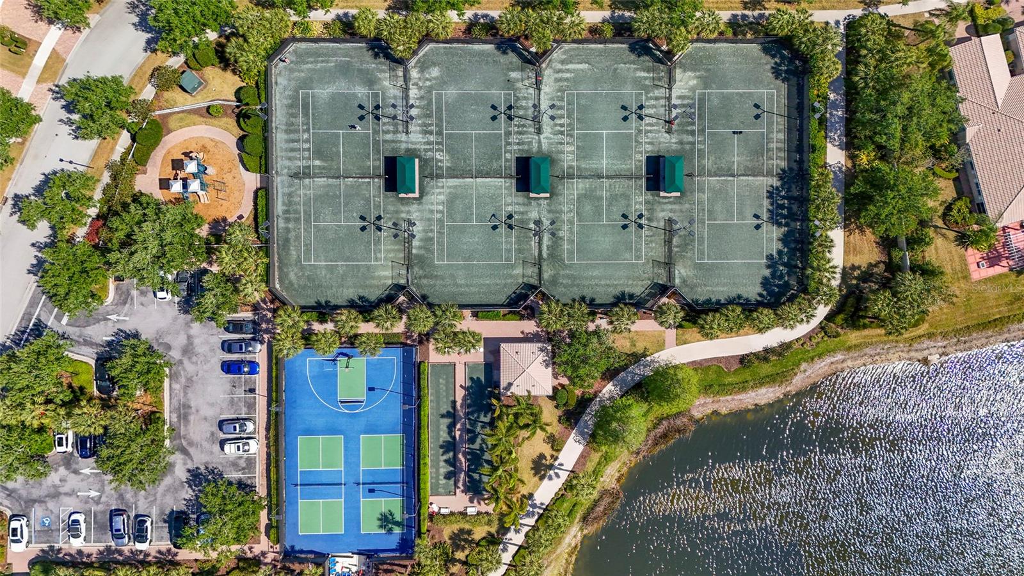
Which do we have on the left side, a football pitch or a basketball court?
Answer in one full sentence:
It is a basketball court that can be seen on the left side.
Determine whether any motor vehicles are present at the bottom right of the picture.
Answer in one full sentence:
No, there is no motor vehicle at the bottom right of the picture.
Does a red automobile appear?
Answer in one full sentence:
No, the photo shows no red automobile.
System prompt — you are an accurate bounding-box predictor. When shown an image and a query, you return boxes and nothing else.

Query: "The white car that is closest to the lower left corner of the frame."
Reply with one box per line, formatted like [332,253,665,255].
[7,514,29,551]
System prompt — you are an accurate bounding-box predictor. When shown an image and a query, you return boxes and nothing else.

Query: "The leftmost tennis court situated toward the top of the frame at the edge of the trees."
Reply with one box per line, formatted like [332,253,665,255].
[275,43,408,308]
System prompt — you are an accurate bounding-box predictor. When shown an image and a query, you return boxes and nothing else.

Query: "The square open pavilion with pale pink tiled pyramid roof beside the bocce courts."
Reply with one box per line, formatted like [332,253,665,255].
[500,341,553,396]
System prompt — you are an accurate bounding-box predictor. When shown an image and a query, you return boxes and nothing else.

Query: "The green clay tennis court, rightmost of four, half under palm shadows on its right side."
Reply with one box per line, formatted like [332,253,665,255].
[671,44,800,309]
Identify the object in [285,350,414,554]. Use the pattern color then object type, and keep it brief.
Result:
blue basketball court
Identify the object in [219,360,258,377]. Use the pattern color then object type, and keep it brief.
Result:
blue car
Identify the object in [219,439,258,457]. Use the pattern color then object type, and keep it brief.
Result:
white car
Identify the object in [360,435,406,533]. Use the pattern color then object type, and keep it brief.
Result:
green sports court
